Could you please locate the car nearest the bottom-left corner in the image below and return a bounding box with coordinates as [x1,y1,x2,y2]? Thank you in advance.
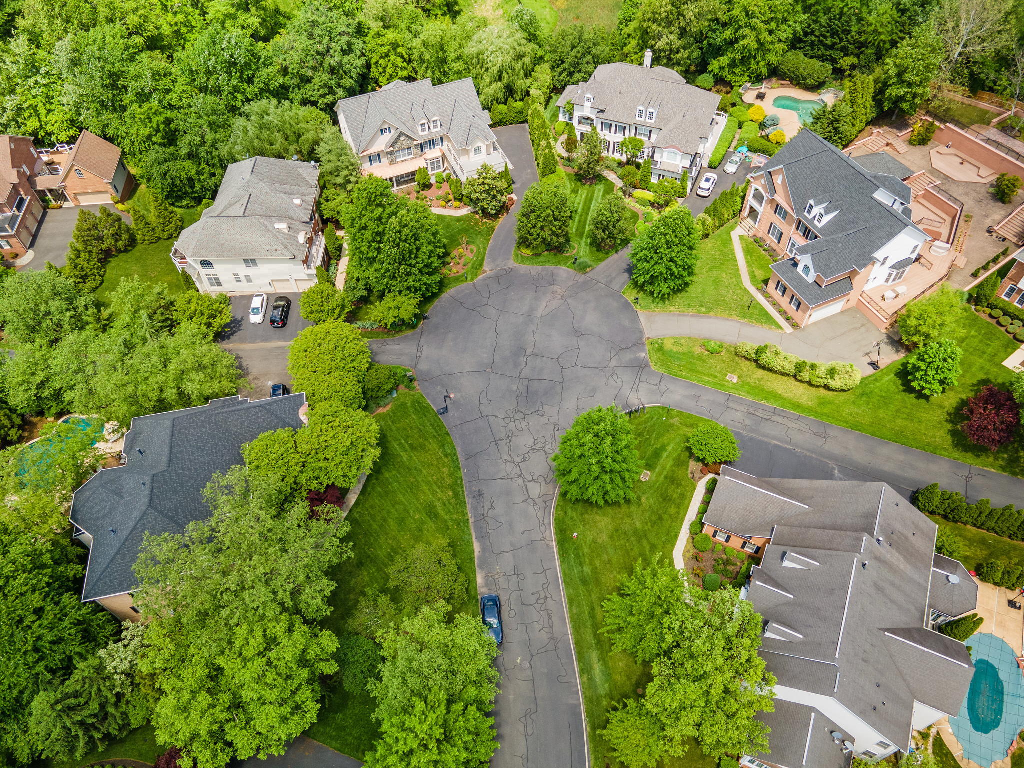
[266,378,286,398]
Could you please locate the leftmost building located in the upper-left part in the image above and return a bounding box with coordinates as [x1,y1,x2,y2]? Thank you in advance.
[0,135,75,253]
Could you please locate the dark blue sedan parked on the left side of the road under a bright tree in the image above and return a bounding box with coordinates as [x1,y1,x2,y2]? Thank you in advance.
[481,593,505,644]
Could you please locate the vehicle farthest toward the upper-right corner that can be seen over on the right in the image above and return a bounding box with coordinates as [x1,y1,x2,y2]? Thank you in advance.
[725,151,746,171]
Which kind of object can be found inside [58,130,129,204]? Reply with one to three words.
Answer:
building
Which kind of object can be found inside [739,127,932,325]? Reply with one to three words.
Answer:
house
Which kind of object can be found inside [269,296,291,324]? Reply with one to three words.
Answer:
car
